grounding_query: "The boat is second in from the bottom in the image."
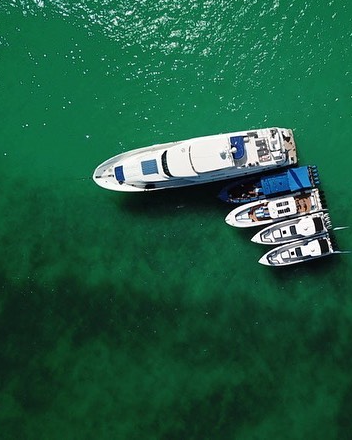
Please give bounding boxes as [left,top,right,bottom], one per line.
[251,212,350,244]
